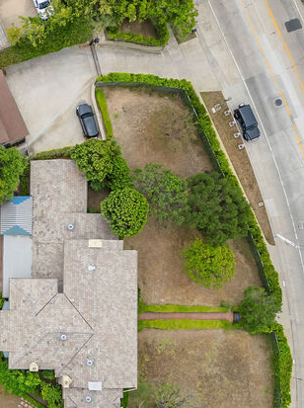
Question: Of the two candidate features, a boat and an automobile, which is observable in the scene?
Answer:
automobile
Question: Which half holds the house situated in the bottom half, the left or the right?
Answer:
left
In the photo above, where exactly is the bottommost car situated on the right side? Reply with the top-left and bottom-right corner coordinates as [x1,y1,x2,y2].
[234,101,261,142]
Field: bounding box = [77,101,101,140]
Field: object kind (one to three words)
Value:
car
